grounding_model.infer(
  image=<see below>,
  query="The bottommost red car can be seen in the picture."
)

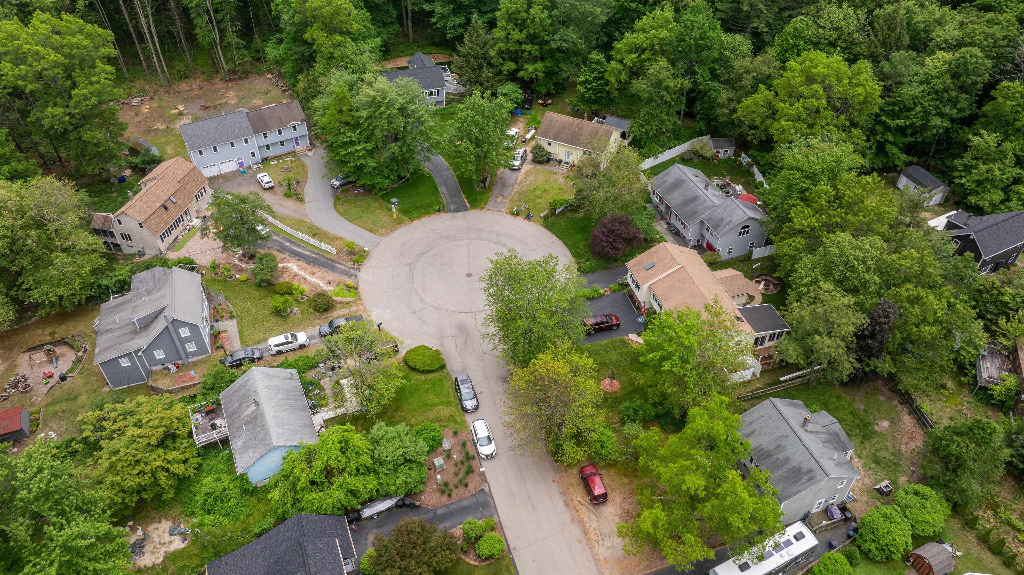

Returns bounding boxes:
[580,463,609,506]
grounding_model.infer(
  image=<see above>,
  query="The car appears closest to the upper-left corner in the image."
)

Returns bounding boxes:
[253,170,277,190]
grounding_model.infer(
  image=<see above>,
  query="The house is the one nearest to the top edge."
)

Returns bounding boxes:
[380,52,458,111]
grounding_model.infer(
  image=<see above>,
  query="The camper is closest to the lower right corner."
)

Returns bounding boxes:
[712,522,819,575]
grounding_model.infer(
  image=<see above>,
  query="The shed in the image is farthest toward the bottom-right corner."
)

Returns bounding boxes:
[904,534,953,575]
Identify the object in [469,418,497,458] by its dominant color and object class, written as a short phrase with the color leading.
white car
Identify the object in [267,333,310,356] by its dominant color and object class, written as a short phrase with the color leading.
white car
